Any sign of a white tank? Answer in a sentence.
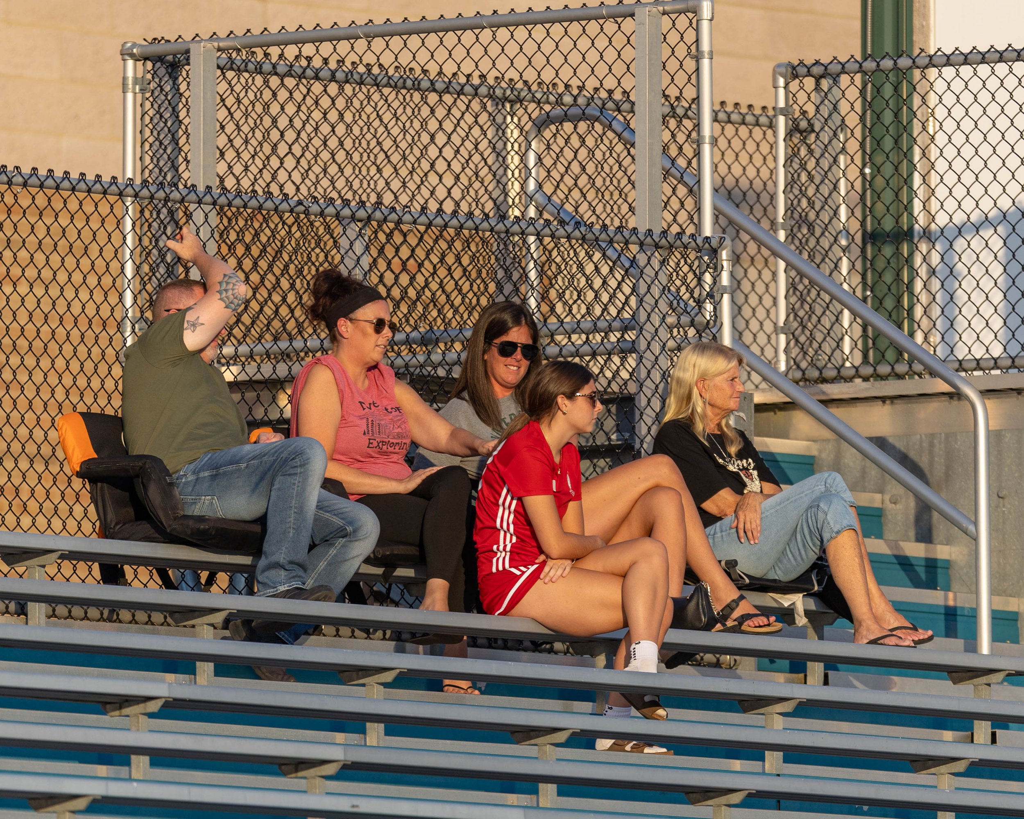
No, no white tank is visible in the view.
